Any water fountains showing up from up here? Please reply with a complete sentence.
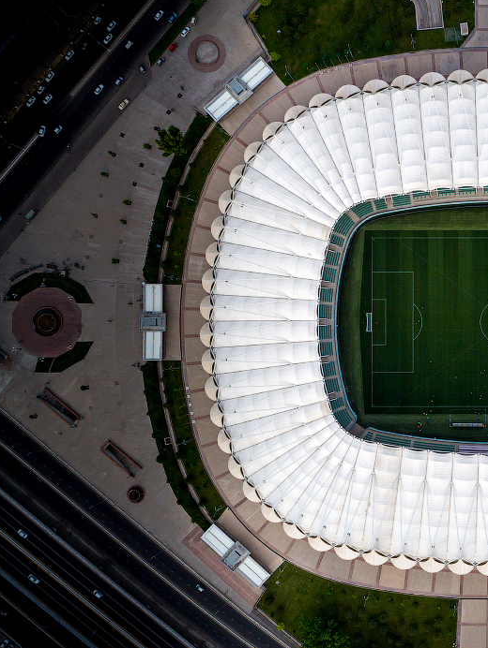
Yes, the photo shows a water fountain.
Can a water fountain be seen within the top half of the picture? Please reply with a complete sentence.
Yes, a water fountain can be seen within the top half of the picture.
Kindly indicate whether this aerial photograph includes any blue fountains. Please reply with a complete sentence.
No, the frame has no blue fountain in it.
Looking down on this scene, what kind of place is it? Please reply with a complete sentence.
It's a sports ground.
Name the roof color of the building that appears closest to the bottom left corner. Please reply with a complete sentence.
The color of the roof on the building that appears closest to the bottom left corner is white.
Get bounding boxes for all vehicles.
[167,40,177,51]
[113,74,124,85]
[153,8,163,19]
[21,208,34,220]
[92,590,103,600]
[25,95,35,106]
[52,123,63,134]
[123,37,134,49]
[106,19,116,30]
[179,25,190,36]
[16,530,27,539]
[93,84,103,94]
[27,575,38,585]
[155,54,165,66]
[44,71,54,81]
[65,48,75,59]
[42,93,52,104]
[167,11,178,21]
[195,584,206,594]
[118,98,128,109]
[0,609,7,619]
[0,640,8,648]
[92,13,102,24]
[103,32,113,42]
[37,125,46,136]
[35,84,45,94]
